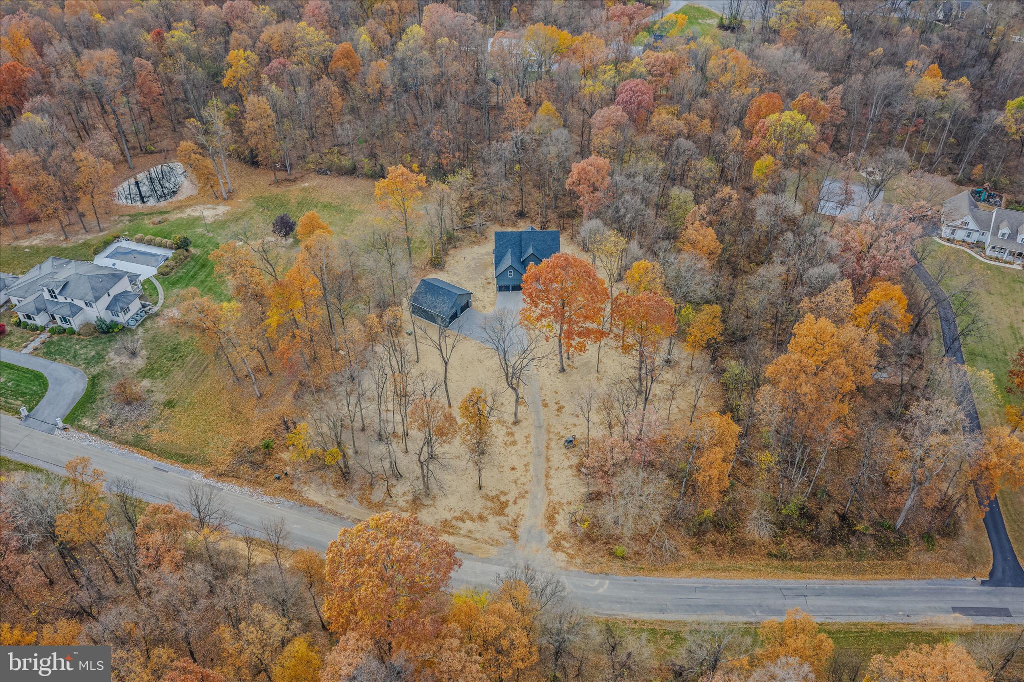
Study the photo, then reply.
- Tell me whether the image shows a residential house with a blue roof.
Yes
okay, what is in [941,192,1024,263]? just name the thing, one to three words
house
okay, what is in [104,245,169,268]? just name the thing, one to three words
swimming pool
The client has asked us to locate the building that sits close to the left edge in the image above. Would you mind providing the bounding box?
[0,257,150,329]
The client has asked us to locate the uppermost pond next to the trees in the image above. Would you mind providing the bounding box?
[116,162,185,205]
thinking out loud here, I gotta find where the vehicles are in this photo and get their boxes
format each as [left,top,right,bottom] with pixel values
[563,435,581,450]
